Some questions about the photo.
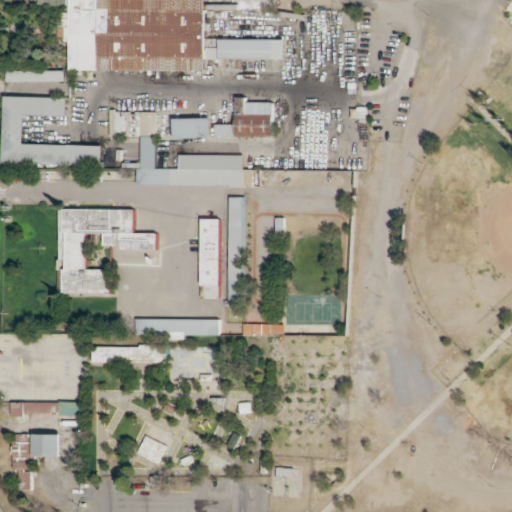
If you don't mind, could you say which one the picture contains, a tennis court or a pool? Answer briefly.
tennis court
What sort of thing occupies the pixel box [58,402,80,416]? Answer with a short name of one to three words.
house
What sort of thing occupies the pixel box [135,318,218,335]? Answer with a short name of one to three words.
building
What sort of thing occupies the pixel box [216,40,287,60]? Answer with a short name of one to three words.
shed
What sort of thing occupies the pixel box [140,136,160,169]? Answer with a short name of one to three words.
shed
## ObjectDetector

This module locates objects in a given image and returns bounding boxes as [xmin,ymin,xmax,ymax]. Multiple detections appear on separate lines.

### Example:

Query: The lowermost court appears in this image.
[172,348,216,380]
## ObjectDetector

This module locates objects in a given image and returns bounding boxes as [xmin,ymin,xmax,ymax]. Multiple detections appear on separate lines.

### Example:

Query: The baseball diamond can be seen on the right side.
[470,169,512,292]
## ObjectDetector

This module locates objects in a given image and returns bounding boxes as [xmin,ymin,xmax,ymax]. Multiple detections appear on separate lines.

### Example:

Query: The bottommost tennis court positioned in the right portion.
[286,295,341,324]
